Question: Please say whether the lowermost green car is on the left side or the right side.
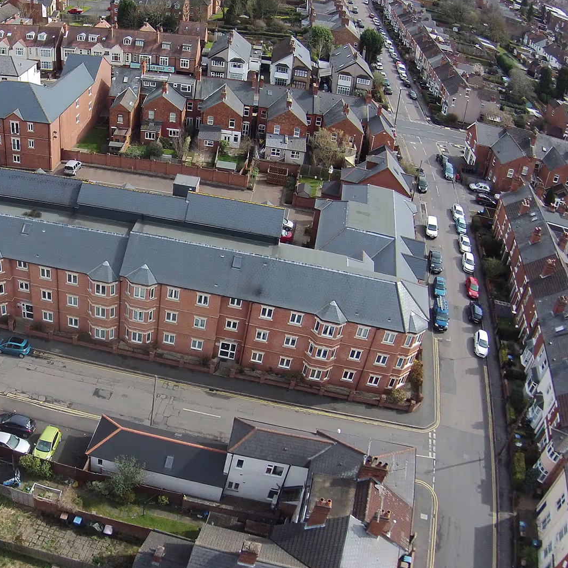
left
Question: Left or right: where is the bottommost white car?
left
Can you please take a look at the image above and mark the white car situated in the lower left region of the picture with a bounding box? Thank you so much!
[0,428,34,453]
